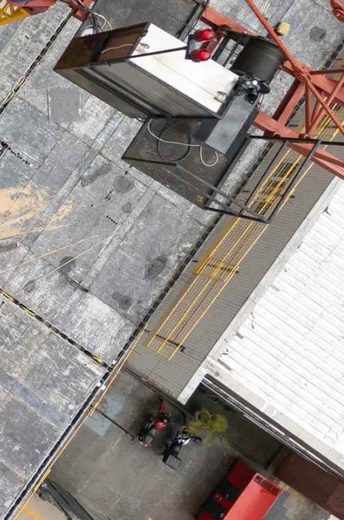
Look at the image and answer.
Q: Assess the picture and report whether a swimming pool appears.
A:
No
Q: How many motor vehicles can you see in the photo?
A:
2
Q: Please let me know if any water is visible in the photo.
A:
No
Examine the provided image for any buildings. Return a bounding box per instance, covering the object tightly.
[0,0,344,520]
[161,168,344,507]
